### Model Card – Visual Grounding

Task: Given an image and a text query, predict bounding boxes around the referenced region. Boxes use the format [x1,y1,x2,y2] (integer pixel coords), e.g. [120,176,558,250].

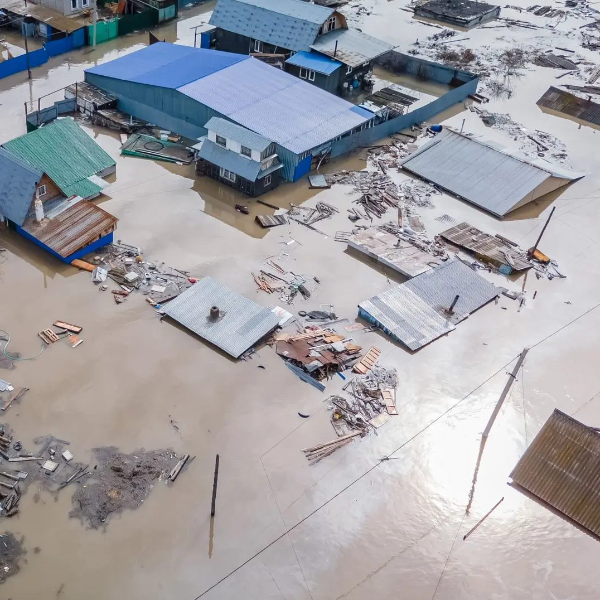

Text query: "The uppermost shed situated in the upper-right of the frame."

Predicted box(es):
[414,0,501,30]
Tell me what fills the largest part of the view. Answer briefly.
water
